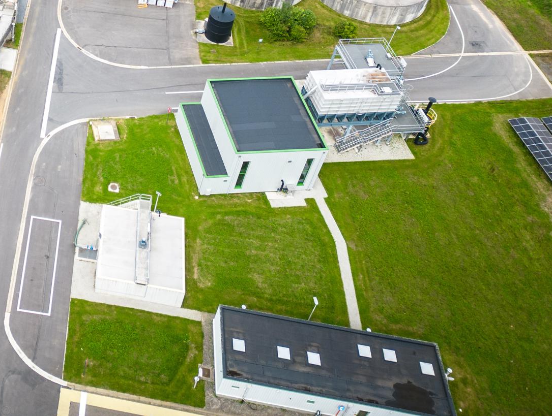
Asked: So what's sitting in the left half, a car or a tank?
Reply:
tank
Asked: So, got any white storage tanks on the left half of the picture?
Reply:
Yes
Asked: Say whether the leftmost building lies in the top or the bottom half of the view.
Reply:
top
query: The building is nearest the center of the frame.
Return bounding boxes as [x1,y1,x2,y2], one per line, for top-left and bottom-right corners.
[176,76,328,198]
